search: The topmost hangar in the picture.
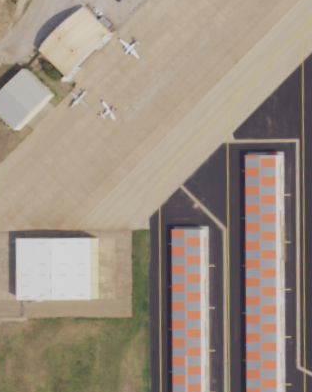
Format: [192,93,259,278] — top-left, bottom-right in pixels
[39,6,114,80]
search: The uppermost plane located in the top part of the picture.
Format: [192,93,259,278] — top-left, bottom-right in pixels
[121,37,140,60]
